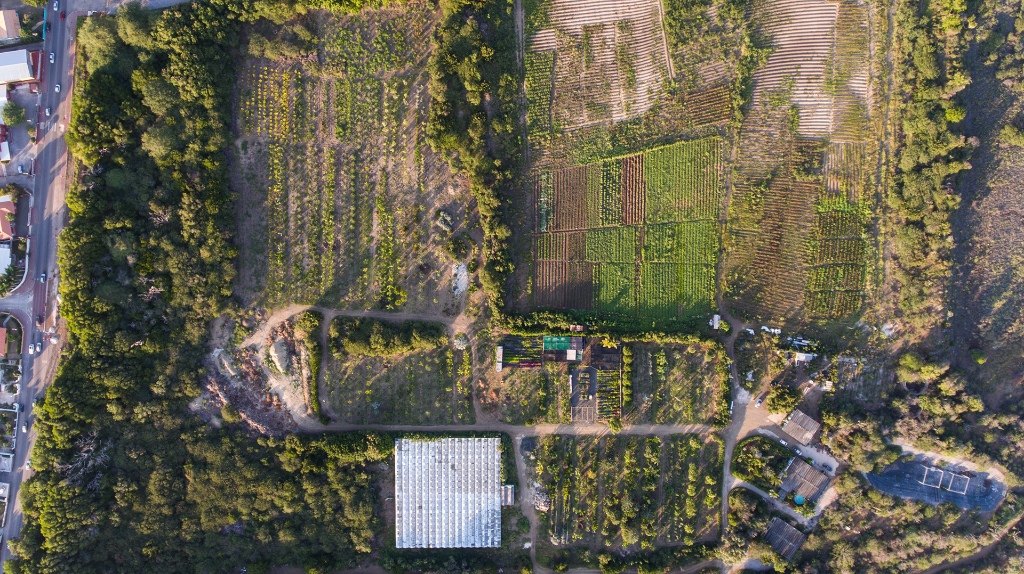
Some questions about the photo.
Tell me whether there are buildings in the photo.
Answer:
Yes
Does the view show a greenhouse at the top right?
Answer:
No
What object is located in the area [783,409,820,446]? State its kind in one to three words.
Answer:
barn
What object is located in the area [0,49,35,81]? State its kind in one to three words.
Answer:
building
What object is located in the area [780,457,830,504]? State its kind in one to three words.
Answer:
house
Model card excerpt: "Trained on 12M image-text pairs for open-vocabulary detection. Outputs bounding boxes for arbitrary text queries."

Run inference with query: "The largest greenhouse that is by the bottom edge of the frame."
[395,436,501,548]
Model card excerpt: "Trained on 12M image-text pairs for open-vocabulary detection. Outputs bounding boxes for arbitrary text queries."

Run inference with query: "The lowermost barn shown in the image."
[763,517,806,560]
